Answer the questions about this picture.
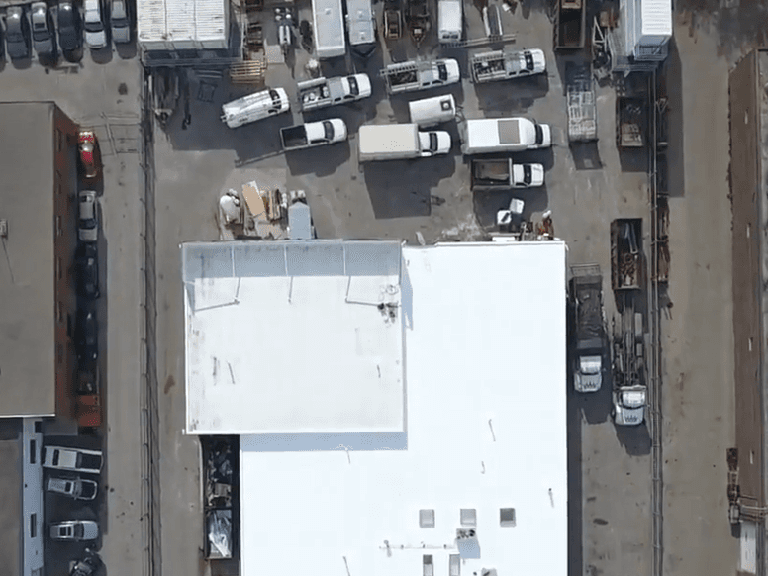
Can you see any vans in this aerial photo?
Yes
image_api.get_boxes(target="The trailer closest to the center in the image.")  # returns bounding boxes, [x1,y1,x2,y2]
[287,199,315,240]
